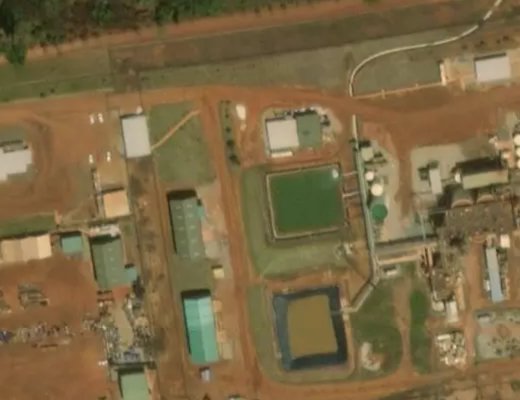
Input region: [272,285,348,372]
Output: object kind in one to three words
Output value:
pond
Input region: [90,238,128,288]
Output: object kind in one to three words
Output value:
shed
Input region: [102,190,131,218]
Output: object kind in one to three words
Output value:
house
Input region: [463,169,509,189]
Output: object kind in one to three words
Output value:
building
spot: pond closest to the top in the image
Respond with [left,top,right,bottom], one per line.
[268,163,347,238]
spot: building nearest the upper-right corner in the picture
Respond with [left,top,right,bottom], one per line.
[475,56,510,82]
